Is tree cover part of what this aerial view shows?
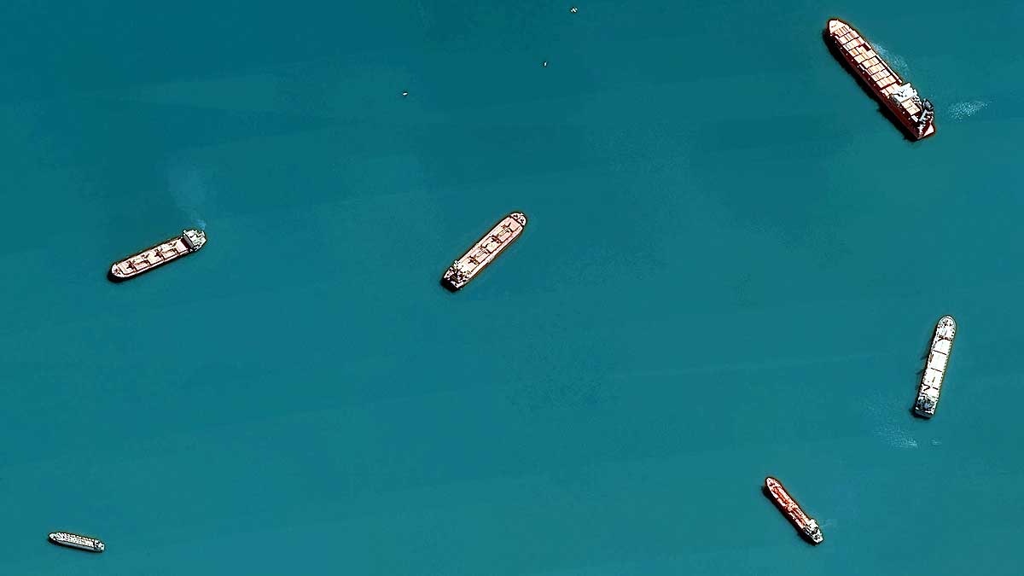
No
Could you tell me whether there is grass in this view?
No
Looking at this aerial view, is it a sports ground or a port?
port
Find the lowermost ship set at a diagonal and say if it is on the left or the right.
right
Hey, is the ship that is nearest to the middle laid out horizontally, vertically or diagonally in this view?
diagonally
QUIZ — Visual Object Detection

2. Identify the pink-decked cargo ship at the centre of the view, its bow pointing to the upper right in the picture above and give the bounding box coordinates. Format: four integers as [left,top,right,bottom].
[445,212,527,287]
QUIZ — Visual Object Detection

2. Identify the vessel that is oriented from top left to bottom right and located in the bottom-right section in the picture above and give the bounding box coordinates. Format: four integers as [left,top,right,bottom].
[767,476,824,543]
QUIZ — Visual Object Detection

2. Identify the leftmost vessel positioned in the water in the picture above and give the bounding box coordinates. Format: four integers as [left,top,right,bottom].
[50,532,105,551]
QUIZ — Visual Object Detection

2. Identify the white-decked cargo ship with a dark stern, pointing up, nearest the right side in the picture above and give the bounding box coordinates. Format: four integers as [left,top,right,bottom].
[916,315,955,416]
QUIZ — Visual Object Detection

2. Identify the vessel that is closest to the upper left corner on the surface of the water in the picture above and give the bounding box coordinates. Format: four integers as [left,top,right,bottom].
[111,229,209,277]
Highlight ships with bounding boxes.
[50,532,105,551]
[767,476,824,543]
[445,212,527,287]
[829,16,934,137]
[111,229,209,277]
[916,315,955,416]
